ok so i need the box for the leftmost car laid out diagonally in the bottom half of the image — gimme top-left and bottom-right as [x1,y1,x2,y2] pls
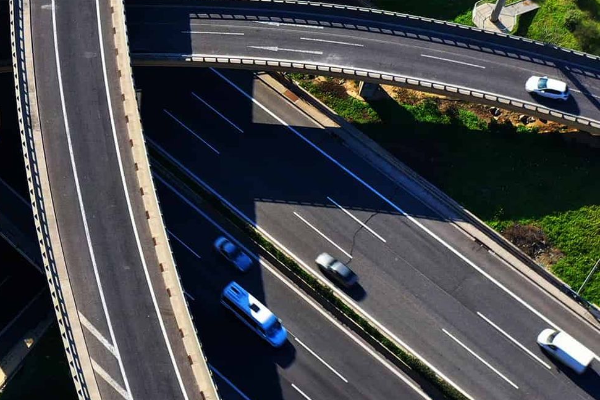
[210,234,257,276]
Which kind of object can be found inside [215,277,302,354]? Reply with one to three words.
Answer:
bus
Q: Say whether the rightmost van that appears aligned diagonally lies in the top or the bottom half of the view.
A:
bottom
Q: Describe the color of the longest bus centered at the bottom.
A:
blue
